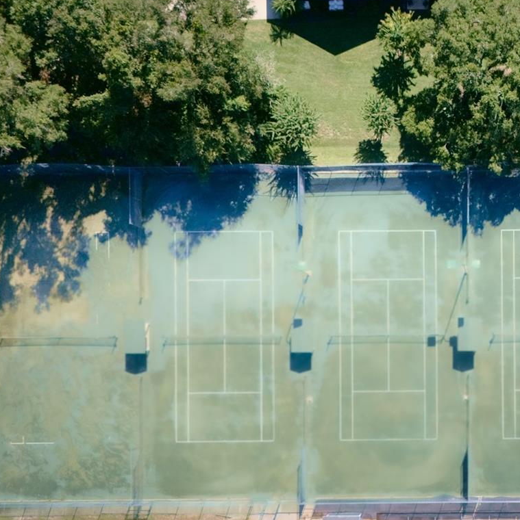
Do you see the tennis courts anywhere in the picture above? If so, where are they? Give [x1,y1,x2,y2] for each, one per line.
[467,172,520,495]
[303,172,465,500]
[0,172,141,500]
[141,172,303,500]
